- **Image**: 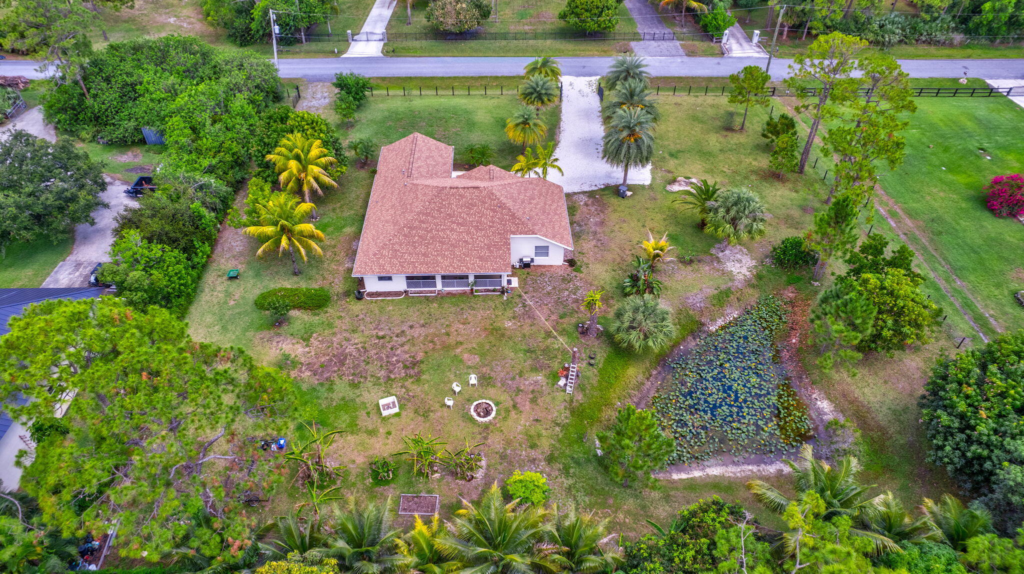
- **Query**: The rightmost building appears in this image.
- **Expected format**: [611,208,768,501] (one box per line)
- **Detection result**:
[349,132,572,293]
